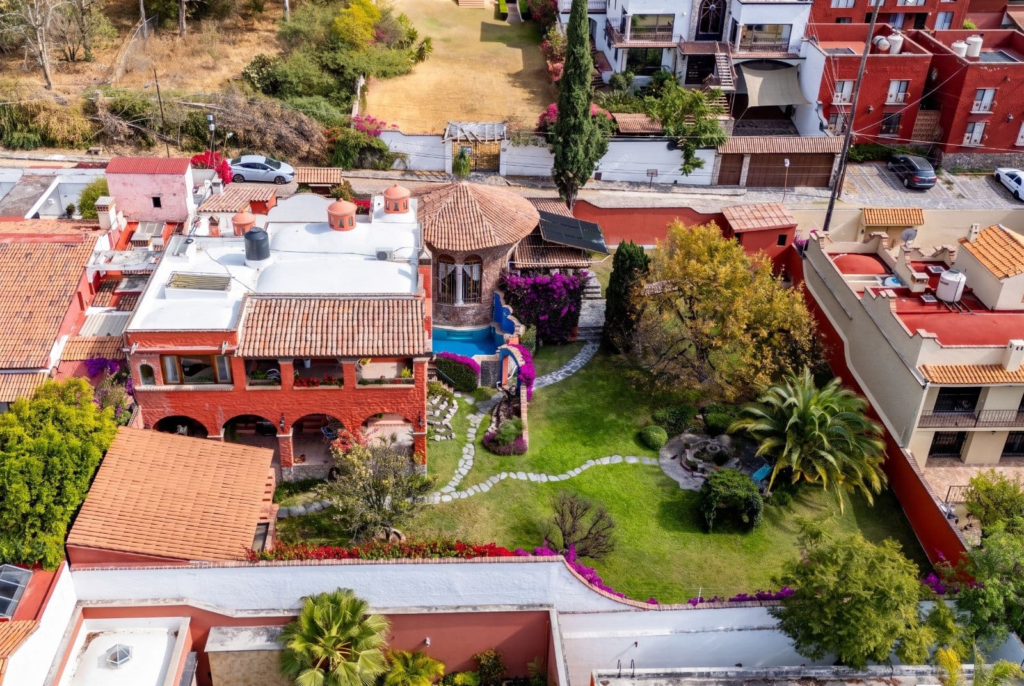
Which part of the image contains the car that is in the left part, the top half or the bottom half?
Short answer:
top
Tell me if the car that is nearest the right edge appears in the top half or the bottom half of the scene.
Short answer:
top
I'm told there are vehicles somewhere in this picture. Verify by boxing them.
[882,153,940,184]
[989,168,1024,194]
[229,158,296,185]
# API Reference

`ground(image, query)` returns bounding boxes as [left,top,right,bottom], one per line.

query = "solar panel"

[538,211,608,314]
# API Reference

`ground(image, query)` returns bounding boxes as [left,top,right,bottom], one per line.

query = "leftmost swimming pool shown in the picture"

[430,321,507,389]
